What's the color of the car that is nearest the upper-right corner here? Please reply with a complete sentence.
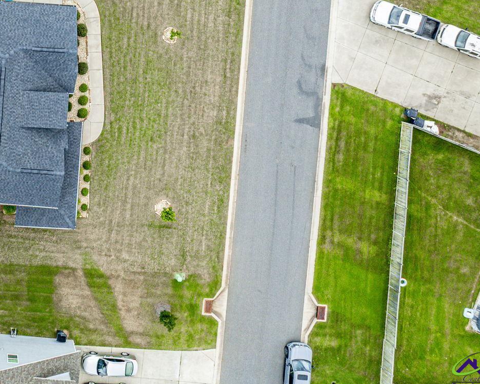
The color of the car that is nearest the upper-right corner is white.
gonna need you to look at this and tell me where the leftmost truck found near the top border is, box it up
[368,1,445,42]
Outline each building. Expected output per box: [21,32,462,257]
[0,0,84,231]
[0,335,81,384]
